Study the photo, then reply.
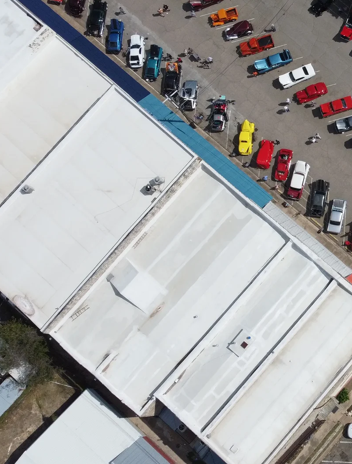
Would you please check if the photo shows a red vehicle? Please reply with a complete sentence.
Yes, the picture does show a red vehicle.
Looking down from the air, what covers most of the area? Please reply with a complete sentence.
Most of the picture is covered by buildings.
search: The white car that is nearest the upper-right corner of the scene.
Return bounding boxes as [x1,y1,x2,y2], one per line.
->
[277,63,318,88]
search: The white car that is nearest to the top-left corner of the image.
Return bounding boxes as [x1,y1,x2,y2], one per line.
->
[121,34,149,68]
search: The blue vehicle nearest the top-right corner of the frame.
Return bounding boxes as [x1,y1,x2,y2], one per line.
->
[253,50,294,73]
